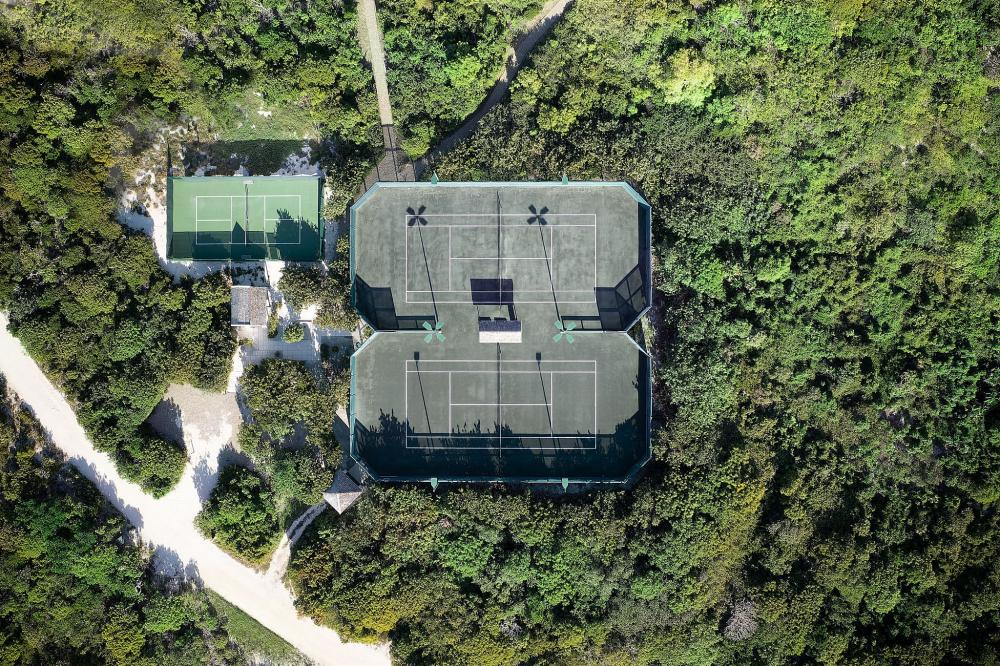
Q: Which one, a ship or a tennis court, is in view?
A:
tennis court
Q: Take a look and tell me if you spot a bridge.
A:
No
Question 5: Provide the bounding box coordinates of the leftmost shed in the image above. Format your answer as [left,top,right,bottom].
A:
[231,285,273,326]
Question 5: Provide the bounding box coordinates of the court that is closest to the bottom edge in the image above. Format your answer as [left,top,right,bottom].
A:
[357,331,646,478]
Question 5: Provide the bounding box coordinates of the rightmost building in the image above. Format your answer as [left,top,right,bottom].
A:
[479,320,522,343]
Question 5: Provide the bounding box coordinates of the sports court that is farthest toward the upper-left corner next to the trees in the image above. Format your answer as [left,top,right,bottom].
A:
[175,181,323,262]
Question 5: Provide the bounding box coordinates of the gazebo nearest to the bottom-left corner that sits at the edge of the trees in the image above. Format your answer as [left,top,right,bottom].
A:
[322,469,364,515]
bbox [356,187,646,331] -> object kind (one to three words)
tennis court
